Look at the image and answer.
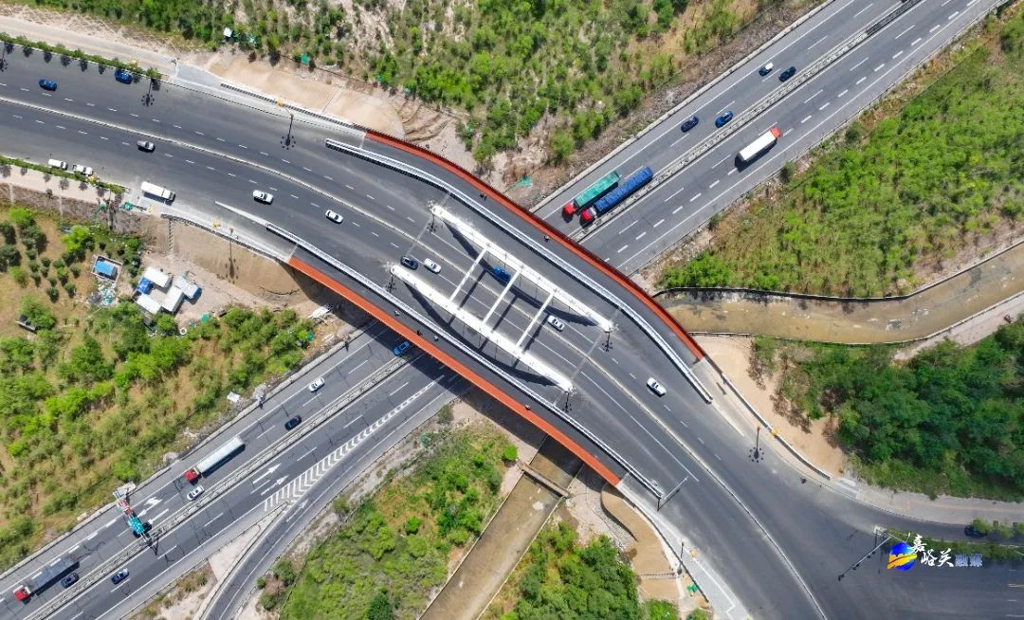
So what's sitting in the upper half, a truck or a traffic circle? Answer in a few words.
truck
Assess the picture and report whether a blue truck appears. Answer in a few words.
Yes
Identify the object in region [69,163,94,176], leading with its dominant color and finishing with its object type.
white vehicle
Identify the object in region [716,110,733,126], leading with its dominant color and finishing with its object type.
blue car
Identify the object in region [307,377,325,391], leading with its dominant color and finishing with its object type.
white car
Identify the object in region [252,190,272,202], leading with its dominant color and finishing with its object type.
white vehicle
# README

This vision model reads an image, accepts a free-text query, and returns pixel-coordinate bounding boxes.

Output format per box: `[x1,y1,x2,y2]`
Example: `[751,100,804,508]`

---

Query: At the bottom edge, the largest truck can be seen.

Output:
[17,553,82,599]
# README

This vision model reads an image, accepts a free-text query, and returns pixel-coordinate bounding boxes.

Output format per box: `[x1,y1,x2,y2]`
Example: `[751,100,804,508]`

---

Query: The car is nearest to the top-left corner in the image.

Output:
[35,77,56,89]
